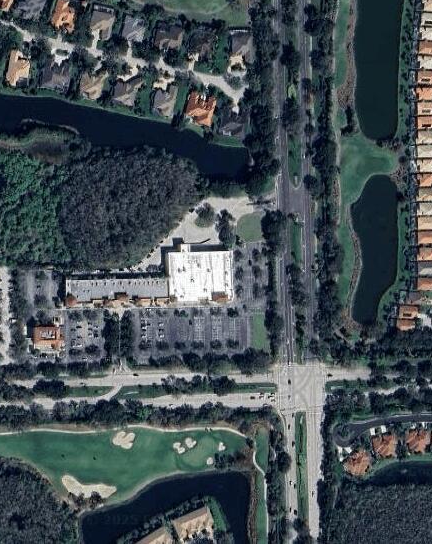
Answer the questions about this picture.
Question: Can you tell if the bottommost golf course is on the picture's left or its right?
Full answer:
The bottommost golf course appears in the left half of the scene.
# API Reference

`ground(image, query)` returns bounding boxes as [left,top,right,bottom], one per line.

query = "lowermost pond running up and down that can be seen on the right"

[353,175,400,322]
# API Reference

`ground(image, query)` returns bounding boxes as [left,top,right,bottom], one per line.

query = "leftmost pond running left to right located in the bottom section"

[80,471,250,544]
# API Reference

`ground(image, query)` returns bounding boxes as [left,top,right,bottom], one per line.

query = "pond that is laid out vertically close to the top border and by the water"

[354,0,404,140]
